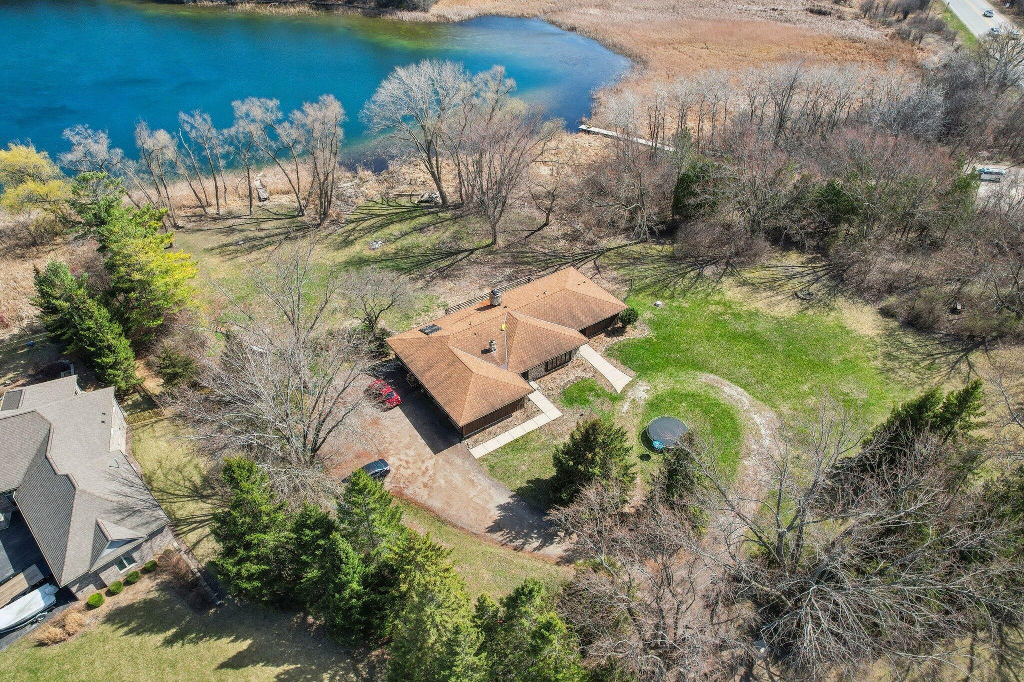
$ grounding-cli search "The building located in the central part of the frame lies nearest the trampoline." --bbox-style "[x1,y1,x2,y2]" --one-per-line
[384,266,629,440]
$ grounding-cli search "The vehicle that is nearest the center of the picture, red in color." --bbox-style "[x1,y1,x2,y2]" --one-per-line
[367,381,403,411]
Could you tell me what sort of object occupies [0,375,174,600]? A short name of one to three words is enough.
house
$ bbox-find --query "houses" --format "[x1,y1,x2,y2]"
[0,375,174,600]
[384,266,629,440]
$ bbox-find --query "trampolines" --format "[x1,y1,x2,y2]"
[646,417,687,453]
